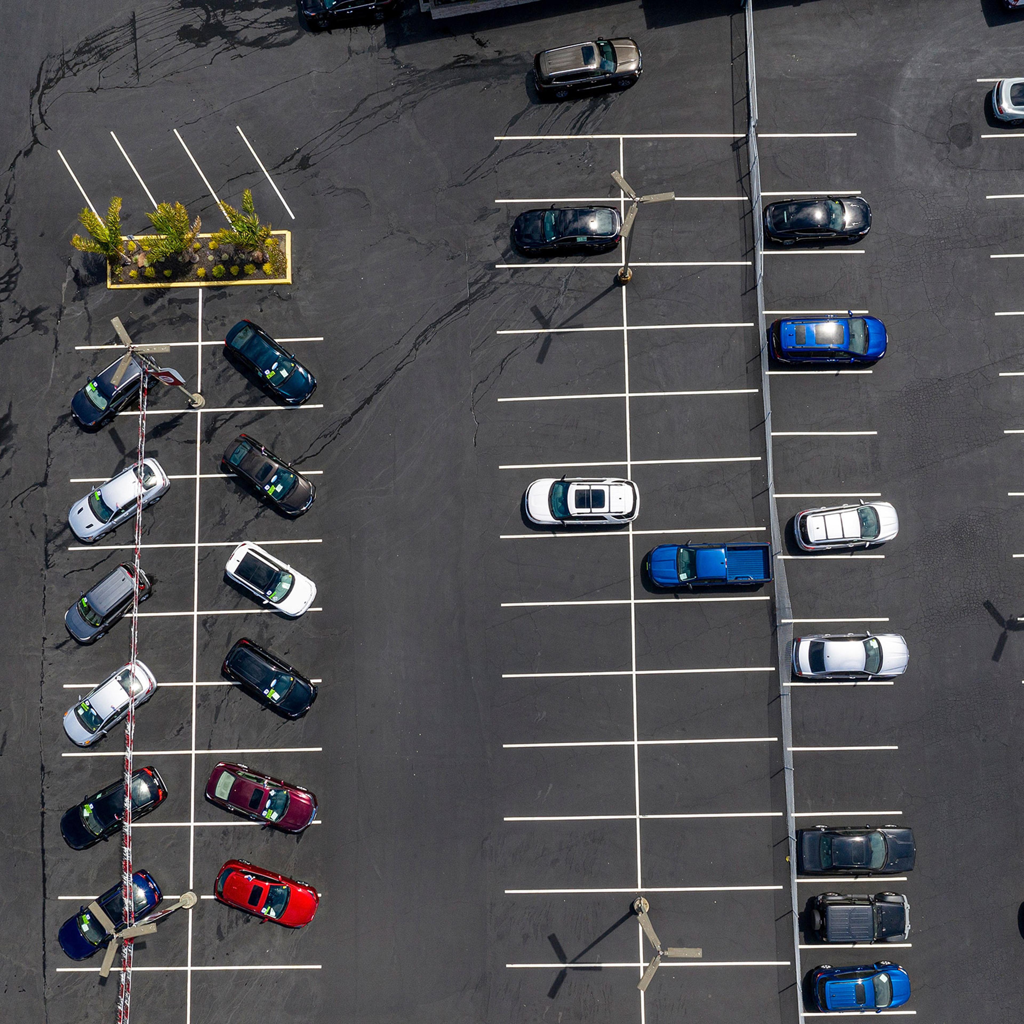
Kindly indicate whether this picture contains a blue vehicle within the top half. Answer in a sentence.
Yes, you'll find a blue vehicle within the top half.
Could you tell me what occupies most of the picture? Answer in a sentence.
The bulk of the photo consists of paved ground.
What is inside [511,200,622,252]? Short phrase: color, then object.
black car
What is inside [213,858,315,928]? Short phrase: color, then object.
red car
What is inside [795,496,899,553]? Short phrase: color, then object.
white car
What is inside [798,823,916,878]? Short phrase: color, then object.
black car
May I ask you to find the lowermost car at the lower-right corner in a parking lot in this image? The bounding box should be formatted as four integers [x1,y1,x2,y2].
[814,961,911,1019]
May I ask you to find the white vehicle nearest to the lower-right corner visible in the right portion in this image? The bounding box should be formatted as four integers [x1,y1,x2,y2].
[793,628,908,683]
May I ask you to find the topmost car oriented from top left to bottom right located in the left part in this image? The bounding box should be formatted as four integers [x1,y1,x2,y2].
[223,317,316,405]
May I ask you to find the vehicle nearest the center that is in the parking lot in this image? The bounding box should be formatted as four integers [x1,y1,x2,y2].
[525,471,640,526]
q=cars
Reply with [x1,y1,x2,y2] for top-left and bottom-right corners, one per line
[218,638,315,720]
[770,308,889,364]
[992,80,1024,128]
[68,662,159,743]
[793,628,908,683]
[224,539,314,615]
[205,760,315,835]
[798,823,916,878]
[511,200,622,252]
[811,894,913,946]
[213,858,315,928]
[525,471,640,526]
[220,435,313,515]
[66,560,153,641]
[533,35,643,99]
[69,457,171,540]
[296,0,401,27]
[73,350,161,430]
[764,188,871,241]
[814,961,911,1019]
[223,317,316,405]
[795,496,899,553]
